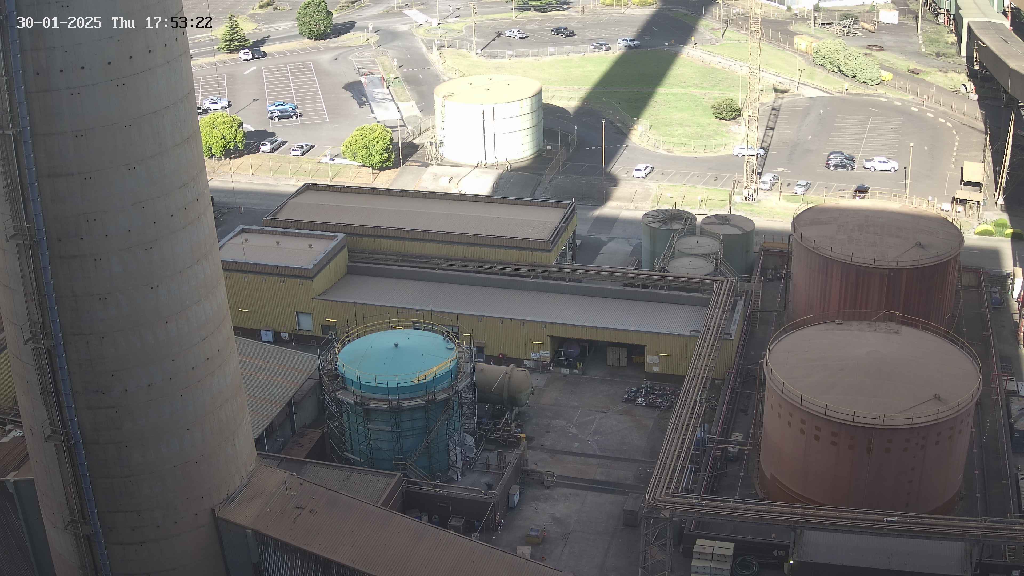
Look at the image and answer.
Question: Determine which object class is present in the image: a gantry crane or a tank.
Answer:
tank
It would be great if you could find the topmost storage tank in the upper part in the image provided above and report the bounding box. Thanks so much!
[434,73,546,166]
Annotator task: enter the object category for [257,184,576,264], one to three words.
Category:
shed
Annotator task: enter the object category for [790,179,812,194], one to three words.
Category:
car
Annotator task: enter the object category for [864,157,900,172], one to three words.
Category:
vehicle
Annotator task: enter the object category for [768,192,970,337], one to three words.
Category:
storage tank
